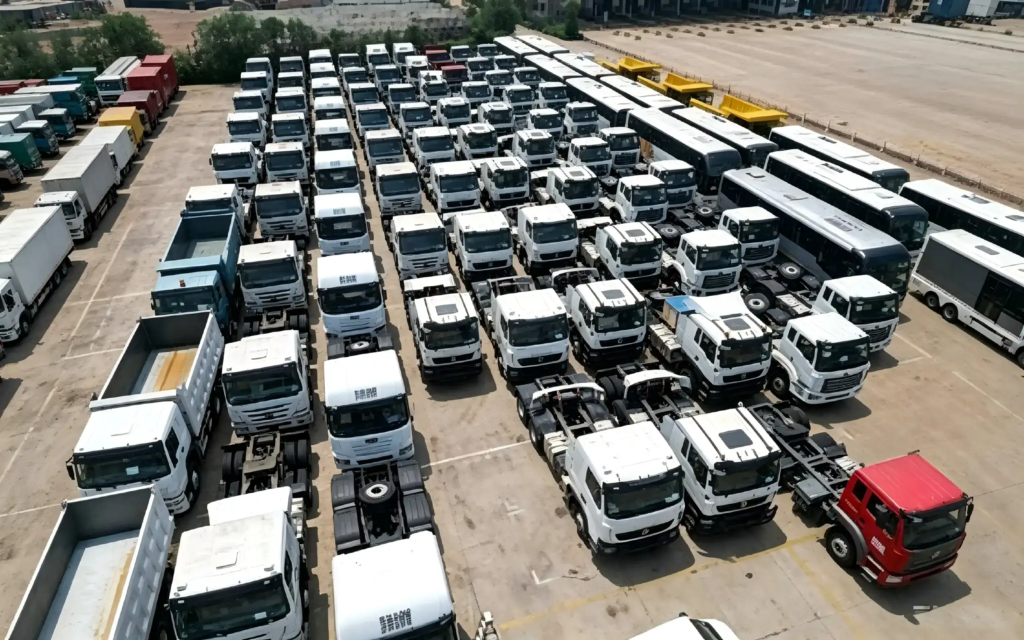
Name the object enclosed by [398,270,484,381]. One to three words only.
truck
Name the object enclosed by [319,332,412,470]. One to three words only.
truck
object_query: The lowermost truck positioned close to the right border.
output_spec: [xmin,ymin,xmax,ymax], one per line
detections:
[738,399,986,584]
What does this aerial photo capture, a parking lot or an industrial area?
parking lot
